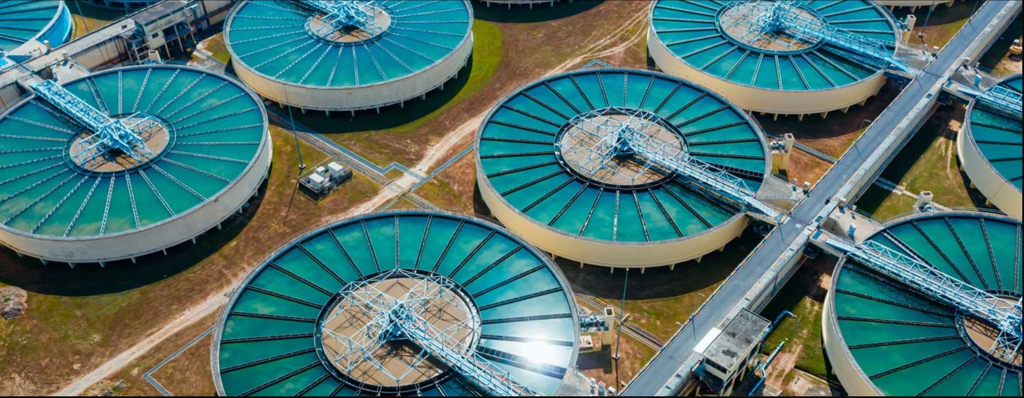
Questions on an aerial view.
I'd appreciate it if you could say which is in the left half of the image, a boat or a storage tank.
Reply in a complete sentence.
The one visible in the left half of the image is a storage tank.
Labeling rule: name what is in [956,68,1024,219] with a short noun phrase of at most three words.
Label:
storage tank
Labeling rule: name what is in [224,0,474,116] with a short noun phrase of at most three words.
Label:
storage tank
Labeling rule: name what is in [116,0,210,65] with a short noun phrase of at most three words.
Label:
building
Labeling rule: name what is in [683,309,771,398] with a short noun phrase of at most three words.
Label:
building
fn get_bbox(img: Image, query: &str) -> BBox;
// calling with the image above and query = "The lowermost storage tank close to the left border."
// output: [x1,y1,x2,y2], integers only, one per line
[0,61,273,270]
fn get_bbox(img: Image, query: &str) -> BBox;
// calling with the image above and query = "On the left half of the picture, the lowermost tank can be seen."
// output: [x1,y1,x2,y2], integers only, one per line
[211,205,581,398]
